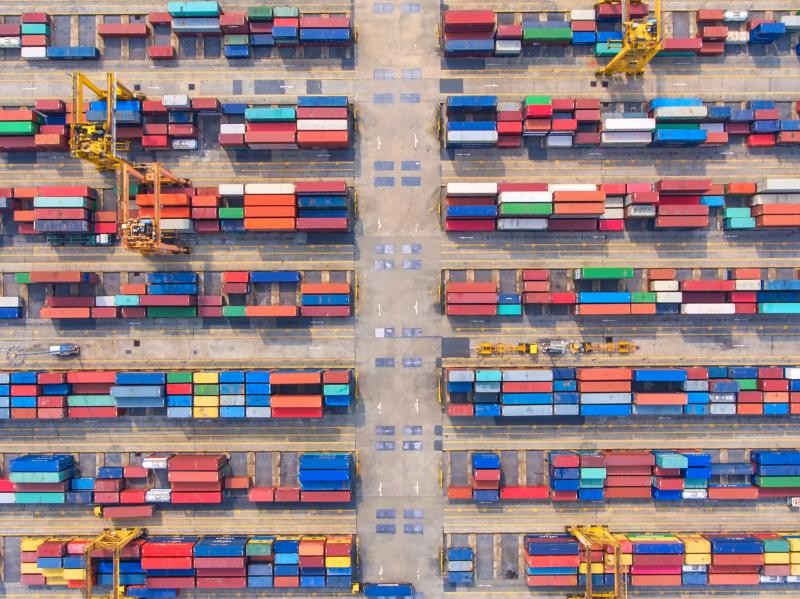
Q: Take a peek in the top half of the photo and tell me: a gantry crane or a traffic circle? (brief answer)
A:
gantry crane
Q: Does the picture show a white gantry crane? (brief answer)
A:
No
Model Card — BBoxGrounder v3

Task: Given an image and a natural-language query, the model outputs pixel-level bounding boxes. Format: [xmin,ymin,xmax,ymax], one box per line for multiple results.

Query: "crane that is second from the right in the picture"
[561,524,623,599]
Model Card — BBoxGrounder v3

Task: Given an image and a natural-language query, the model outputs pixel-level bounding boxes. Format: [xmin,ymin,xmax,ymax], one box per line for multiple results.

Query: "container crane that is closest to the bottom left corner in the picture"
[84,527,154,599]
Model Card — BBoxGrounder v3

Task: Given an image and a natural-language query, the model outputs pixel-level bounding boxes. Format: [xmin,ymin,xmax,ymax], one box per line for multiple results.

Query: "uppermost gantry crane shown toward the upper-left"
[71,73,146,169]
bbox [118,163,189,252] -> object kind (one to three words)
container crane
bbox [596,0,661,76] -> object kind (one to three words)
container crane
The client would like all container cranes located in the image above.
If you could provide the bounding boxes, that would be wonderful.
[71,73,146,169]
[84,527,154,599]
[118,163,189,252]
[596,0,661,76]
[561,524,623,599]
